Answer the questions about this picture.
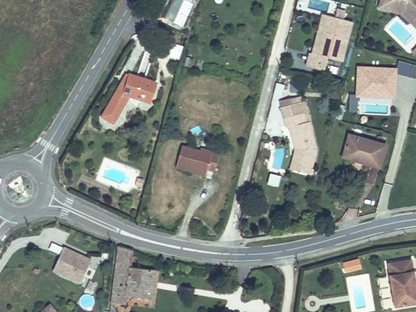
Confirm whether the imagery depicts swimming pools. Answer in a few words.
Yes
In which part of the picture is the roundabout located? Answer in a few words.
left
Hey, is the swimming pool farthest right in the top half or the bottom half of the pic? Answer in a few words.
top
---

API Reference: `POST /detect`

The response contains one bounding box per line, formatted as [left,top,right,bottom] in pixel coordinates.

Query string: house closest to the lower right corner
[388,257,416,309]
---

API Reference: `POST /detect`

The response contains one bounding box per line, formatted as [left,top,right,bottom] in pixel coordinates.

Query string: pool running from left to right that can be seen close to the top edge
[296,0,337,14]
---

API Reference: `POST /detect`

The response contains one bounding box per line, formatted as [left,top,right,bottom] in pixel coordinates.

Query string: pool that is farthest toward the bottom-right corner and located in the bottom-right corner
[346,274,375,312]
